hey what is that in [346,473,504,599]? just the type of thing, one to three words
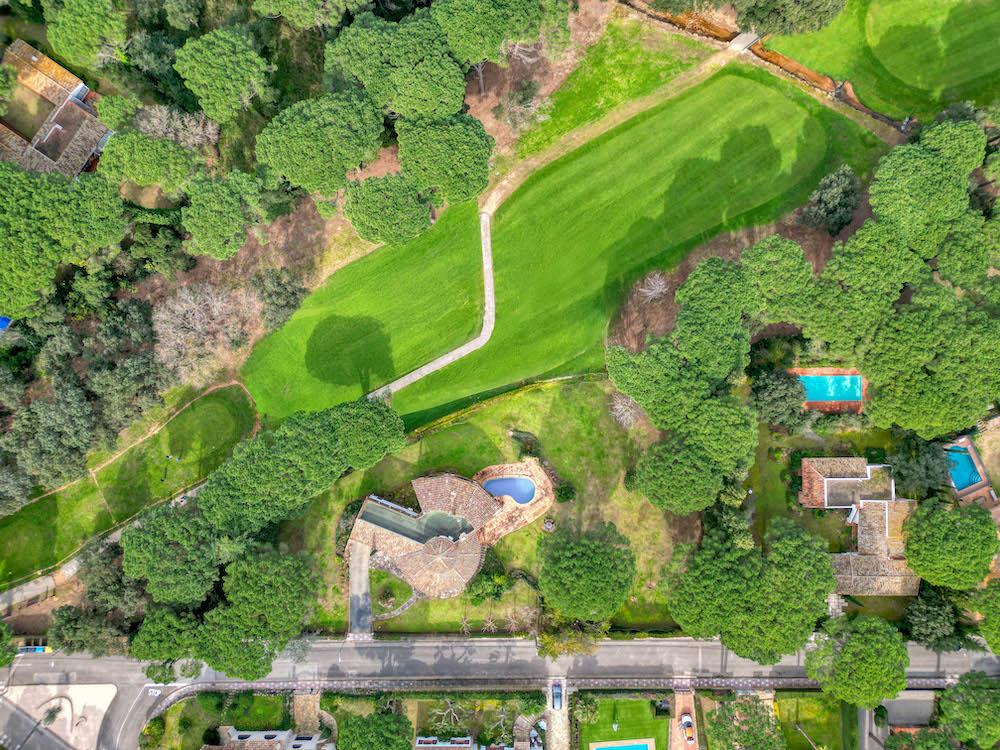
house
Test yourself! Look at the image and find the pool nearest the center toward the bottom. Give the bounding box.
[479,474,538,506]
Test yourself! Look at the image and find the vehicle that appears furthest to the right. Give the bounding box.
[680,715,695,745]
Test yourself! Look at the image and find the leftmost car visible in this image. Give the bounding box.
[551,686,564,713]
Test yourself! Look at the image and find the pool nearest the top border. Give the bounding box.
[787,367,870,413]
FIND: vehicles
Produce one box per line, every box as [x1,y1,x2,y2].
[551,686,564,713]
[680,715,695,745]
